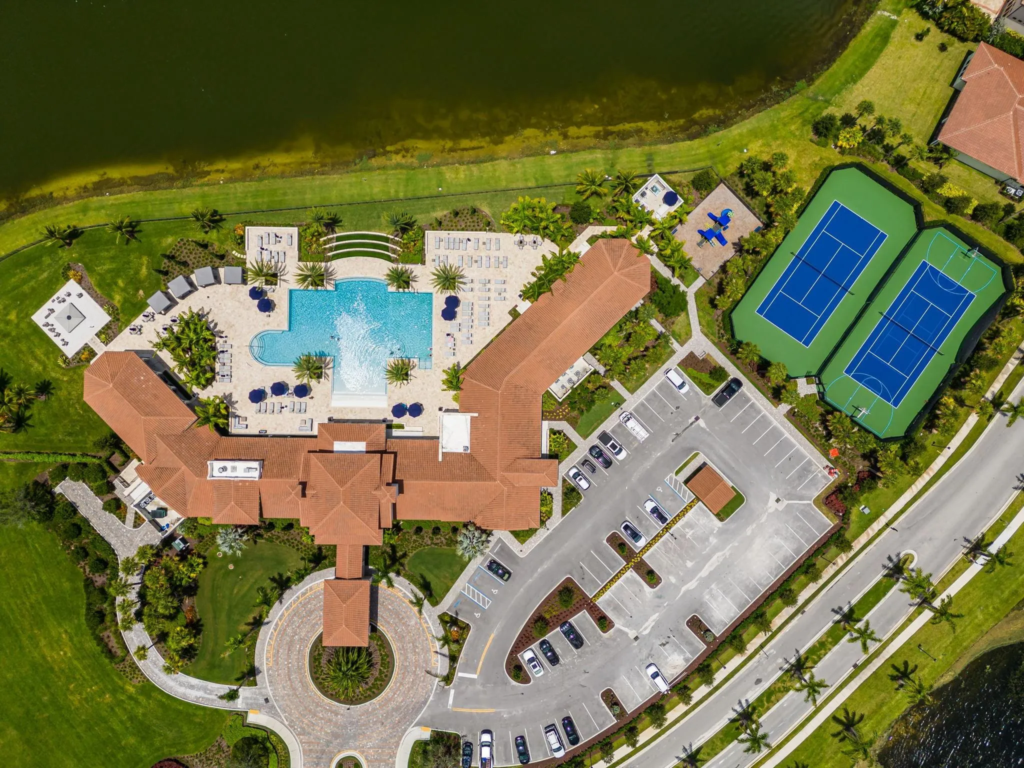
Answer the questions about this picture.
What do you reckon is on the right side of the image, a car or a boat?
car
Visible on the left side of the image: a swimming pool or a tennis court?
swimming pool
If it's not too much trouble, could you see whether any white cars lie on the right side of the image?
Yes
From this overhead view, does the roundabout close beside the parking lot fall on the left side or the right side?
left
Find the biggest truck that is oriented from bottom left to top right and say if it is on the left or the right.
right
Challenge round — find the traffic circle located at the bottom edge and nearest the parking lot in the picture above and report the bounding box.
[264,575,440,768]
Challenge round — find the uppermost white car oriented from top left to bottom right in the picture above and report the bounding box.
[662,367,690,395]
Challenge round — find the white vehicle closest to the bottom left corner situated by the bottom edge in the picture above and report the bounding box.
[479,730,494,767]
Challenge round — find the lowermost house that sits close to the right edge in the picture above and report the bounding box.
[930,42,1024,193]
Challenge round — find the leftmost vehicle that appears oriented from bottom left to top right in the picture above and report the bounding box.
[711,377,743,409]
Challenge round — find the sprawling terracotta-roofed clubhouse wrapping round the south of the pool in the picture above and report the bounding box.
[83,238,651,647]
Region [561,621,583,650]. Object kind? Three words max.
car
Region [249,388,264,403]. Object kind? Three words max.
umbrella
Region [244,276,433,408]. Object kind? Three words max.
swimming pool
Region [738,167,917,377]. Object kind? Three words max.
tennis court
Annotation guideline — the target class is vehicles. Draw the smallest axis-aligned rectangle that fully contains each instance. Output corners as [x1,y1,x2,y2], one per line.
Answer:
[618,410,653,444]
[596,430,628,461]
[561,621,583,650]
[479,730,494,767]
[643,499,669,526]
[461,741,474,768]
[662,367,690,395]
[546,724,564,755]
[514,733,530,763]
[562,715,579,744]
[567,465,593,492]
[524,648,544,677]
[487,557,513,583]
[645,662,672,695]
[587,444,614,470]
[581,460,596,474]
[711,377,743,409]
[620,520,644,547]
[539,638,561,668]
